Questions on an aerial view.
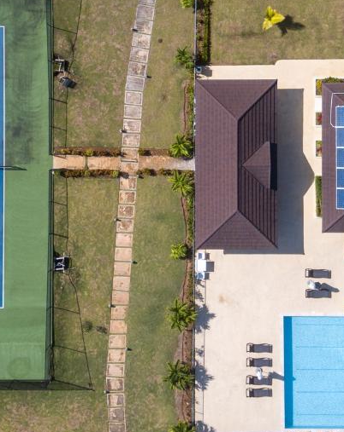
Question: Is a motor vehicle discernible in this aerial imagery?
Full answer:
No, no motor vehicle is visible in the view.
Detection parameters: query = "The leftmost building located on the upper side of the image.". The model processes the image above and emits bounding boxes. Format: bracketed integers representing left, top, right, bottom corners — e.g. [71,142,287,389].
[196,79,278,250]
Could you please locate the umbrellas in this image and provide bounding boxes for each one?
[310,283,322,291]
[254,367,262,382]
